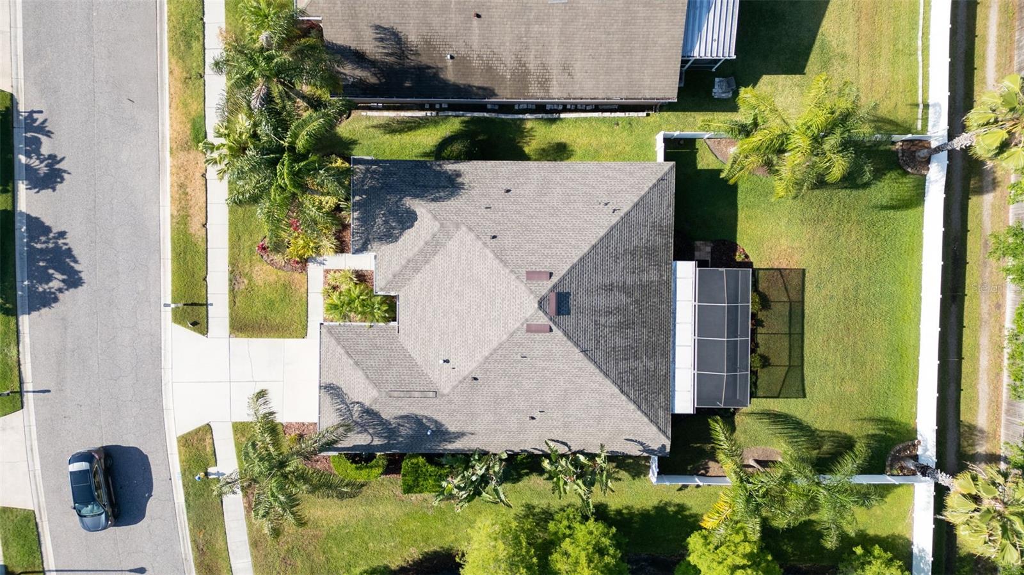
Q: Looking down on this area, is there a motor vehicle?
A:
Yes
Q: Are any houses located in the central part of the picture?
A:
Yes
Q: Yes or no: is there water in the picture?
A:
No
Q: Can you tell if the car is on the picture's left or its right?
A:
left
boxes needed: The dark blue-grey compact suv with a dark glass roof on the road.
[69,443,123,529]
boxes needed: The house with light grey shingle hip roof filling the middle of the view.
[317,158,675,456]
